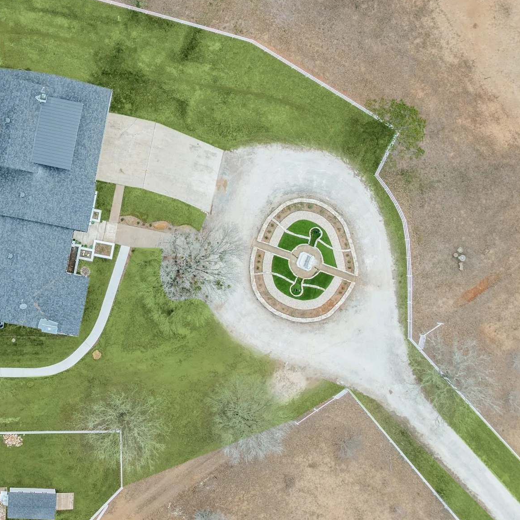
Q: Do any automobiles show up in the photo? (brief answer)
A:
No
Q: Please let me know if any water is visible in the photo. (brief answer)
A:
No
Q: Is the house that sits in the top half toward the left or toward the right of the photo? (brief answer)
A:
left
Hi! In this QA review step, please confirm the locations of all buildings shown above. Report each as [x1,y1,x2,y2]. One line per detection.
[0,69,113,336]
[8,488,56,520]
